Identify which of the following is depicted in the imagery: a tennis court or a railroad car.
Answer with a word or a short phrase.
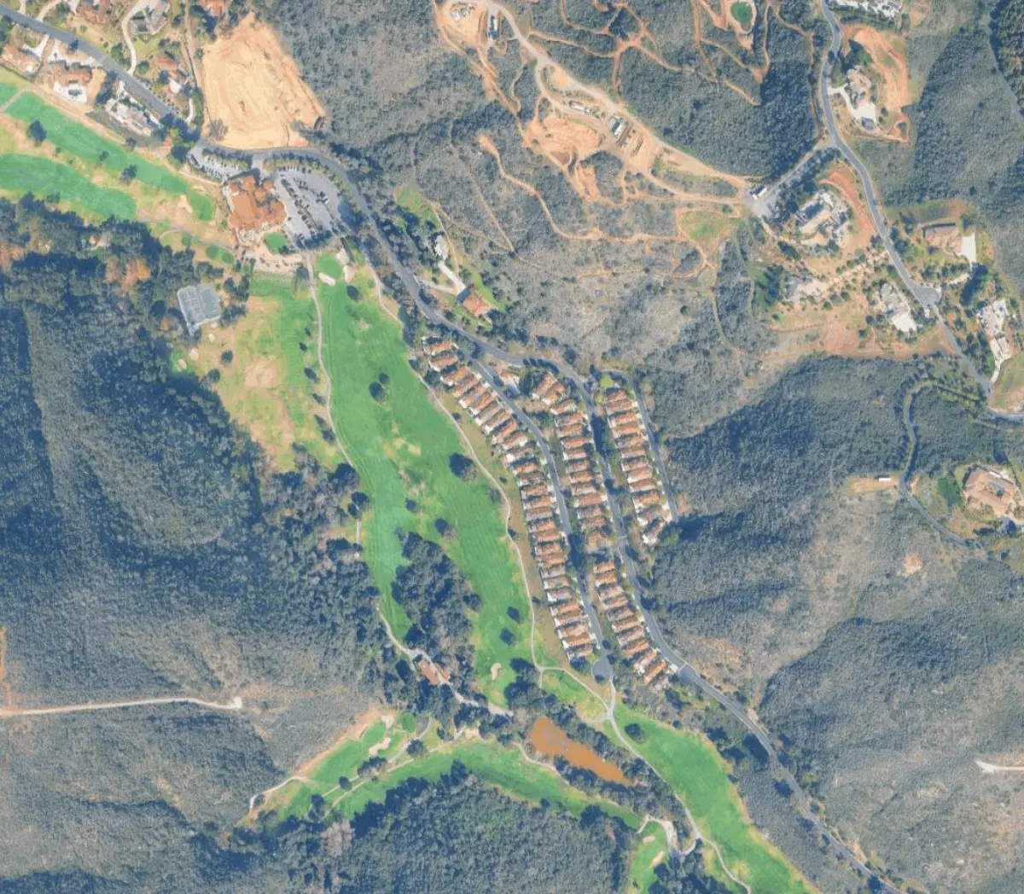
tennis court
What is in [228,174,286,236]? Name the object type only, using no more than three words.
building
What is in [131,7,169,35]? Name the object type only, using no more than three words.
house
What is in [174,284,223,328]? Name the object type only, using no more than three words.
tennis court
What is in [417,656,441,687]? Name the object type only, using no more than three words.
barn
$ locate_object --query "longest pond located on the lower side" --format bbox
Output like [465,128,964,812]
[533,717,632,787]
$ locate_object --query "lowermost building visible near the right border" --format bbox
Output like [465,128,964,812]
[961,462,1023,517]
